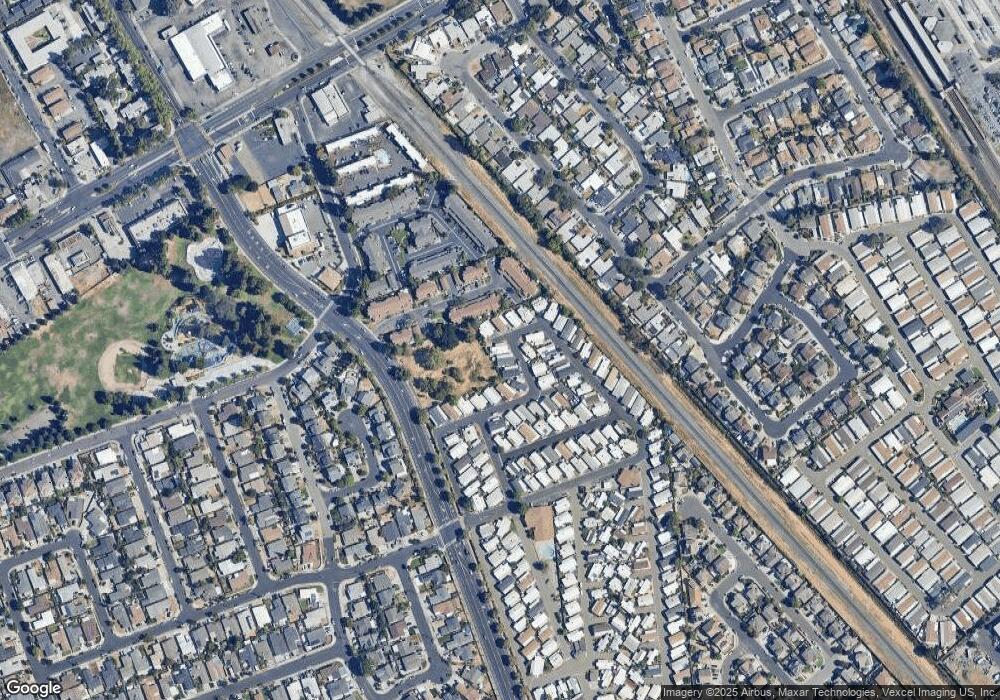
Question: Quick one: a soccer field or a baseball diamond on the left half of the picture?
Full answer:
There is a baseball diamond on the left half of the picture.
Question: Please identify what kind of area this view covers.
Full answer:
What you see here is a residential area.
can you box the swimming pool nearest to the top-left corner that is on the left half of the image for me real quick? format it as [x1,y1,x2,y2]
[374,149,390,166]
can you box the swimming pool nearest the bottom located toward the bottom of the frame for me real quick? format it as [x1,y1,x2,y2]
[536,541,556,563]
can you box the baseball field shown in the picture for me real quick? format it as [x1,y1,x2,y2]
[98,339,149,392]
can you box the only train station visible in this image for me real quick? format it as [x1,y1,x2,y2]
[882,0,963,95]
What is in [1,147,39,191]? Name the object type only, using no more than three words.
building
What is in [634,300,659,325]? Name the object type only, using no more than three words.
house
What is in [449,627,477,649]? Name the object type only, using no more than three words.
house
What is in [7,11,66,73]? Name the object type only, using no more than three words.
building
